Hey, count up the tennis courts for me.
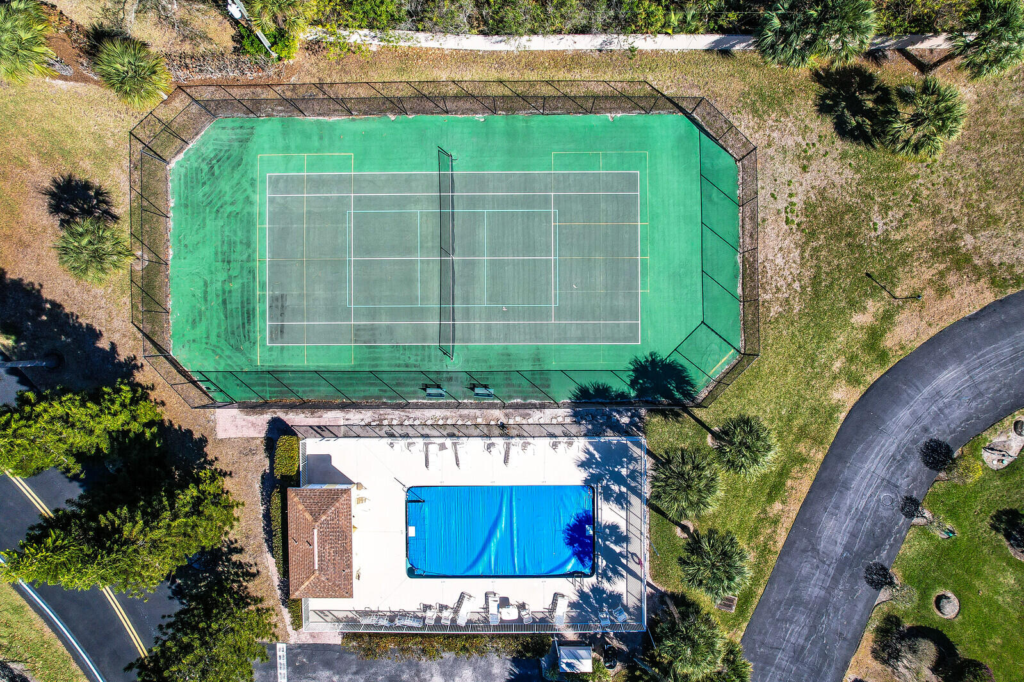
one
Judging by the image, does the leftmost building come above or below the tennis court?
below it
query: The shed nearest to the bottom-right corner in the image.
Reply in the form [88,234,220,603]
[558,638,593,671]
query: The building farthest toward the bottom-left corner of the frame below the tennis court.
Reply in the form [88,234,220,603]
[285,483,357,601]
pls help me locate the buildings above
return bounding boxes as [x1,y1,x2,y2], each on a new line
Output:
[558,638,593,671]
[285,483,357,601]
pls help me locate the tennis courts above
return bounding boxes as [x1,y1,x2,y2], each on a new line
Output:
[169,114,742,401]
